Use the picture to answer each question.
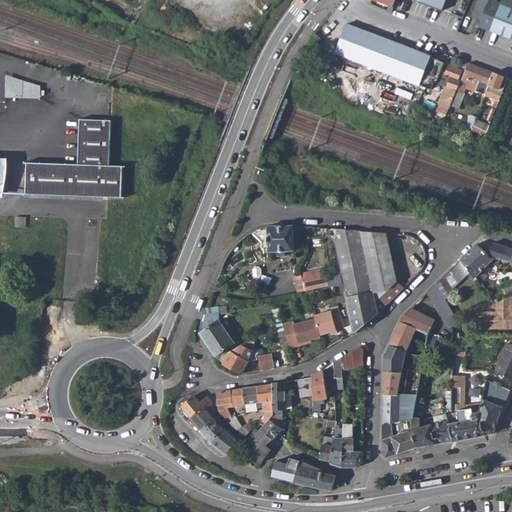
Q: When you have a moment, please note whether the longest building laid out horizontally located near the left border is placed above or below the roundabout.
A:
above it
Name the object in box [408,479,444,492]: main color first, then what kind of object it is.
white vehicle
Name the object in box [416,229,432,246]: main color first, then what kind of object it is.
white vehicle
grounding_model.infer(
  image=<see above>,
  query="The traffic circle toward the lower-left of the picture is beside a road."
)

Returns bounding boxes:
[47,338,163,453]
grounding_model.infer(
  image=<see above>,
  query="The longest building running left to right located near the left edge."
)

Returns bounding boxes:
[23,163,122,197]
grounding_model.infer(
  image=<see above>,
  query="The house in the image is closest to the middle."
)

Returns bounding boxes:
[266,225,293,253]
